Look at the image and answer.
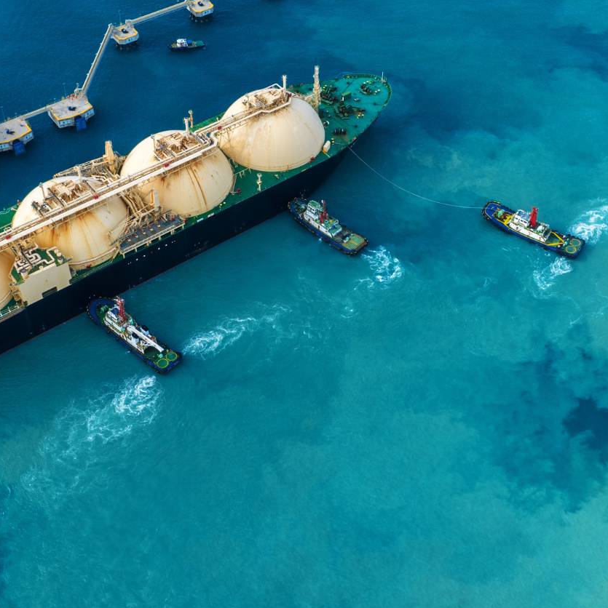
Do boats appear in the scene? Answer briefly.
Yes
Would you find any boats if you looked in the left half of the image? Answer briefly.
Yes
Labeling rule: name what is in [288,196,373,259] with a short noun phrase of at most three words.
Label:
boat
